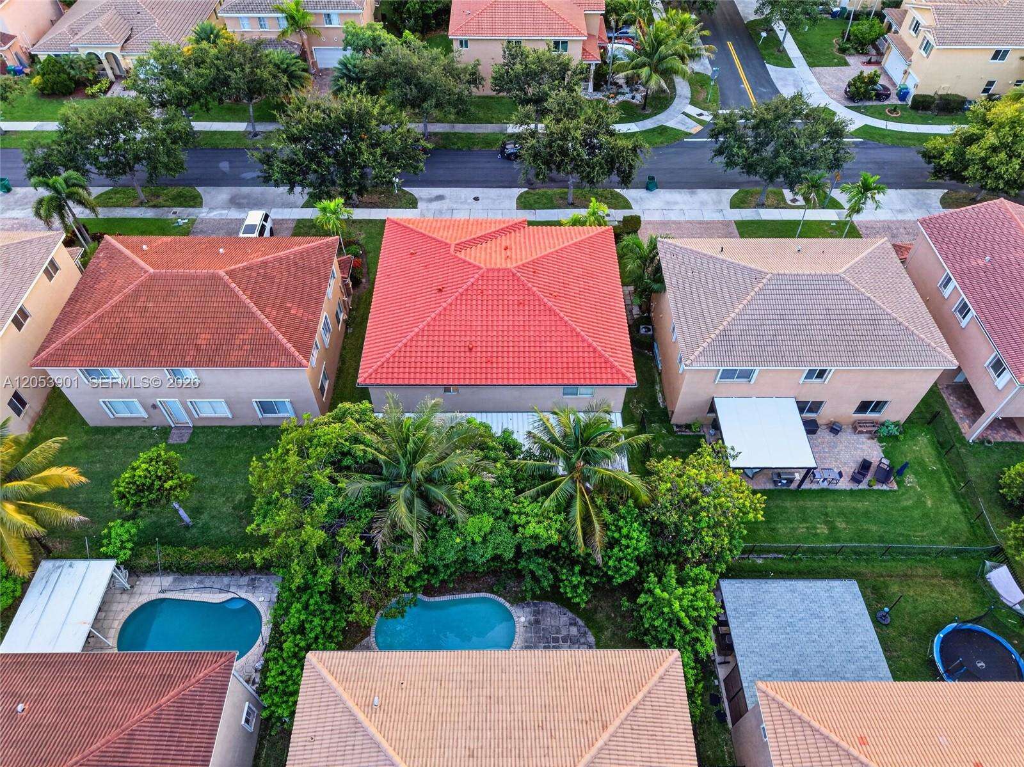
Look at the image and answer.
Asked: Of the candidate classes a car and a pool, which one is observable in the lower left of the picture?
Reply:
pool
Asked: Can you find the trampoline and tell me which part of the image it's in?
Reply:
bottom right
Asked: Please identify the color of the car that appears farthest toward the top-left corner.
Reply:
white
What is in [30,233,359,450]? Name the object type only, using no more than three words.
house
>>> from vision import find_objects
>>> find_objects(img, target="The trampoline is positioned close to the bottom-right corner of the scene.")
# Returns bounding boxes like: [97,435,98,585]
[930,607,1024,680]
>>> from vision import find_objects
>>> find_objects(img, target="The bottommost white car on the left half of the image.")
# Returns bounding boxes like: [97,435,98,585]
[240,211,273,235]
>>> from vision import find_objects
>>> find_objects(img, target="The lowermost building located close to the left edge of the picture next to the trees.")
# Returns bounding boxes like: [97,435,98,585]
[0,649,260,767]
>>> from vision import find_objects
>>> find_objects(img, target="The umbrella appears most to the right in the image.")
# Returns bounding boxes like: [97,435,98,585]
[884,460,912,490]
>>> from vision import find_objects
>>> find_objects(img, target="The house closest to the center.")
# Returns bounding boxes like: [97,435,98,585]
[355,216,639,416]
